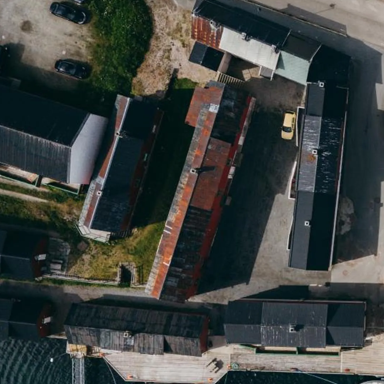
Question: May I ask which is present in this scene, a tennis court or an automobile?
automobile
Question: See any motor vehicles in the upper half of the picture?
Yes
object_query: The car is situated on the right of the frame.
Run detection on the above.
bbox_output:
[279,109,296,140]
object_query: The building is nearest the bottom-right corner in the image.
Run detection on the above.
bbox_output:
[225,299,368,346]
